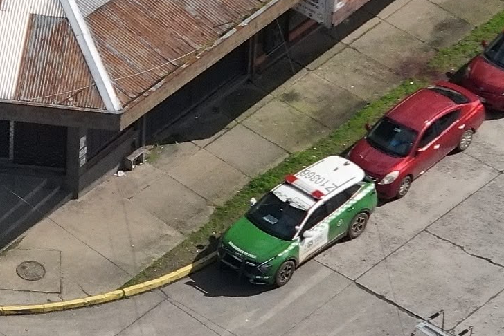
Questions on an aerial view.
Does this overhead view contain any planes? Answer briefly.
No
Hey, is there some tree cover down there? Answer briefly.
No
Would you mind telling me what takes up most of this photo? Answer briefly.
paved ground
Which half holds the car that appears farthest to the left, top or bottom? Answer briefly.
bottom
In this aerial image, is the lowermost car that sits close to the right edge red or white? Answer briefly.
red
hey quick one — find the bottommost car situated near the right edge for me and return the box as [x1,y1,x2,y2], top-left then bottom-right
[342,85,482,202]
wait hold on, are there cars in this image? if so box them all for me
[461,32,504,113]
[214,161,379,290]
[342,85,482,202]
